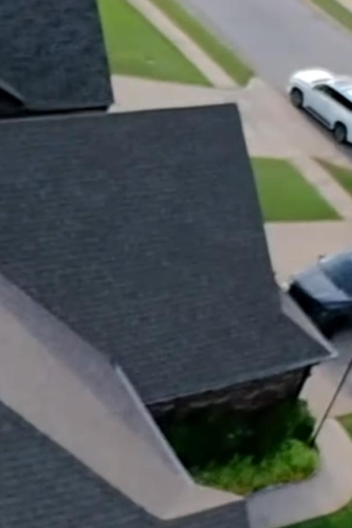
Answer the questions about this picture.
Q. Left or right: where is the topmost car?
right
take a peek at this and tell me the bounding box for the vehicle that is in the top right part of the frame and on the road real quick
[290,77,352,146]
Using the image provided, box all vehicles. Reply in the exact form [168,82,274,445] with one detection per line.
[290,77,352,146]
[293,255,352,324]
